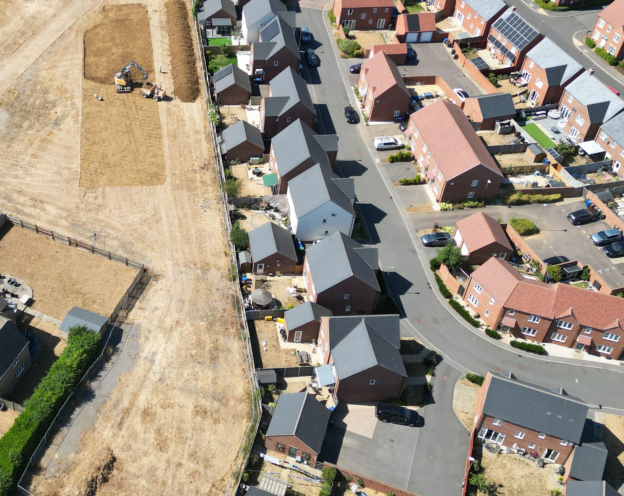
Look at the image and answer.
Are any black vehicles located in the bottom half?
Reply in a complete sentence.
Yes, there is a black vehicle in the bottom half.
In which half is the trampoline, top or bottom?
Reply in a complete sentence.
The trampoline sits in the bottom half of the picture.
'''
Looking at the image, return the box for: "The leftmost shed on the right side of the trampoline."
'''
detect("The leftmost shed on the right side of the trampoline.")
[57,303,104,344]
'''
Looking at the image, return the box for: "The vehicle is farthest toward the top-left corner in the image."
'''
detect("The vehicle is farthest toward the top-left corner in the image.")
[115,51,144,89]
